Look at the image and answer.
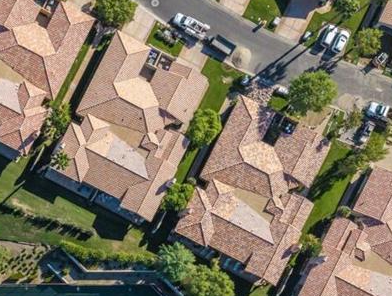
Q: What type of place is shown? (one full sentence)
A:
What you see here is a residential area.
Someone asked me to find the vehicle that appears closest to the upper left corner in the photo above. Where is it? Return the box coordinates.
[176,12,214,36]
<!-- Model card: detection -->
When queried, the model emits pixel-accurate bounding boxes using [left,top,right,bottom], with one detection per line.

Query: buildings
[283,167,392,296]
[375,0,392,31]
[0,0,95,167]
[163,95,332,290]
[42,31,208,227]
